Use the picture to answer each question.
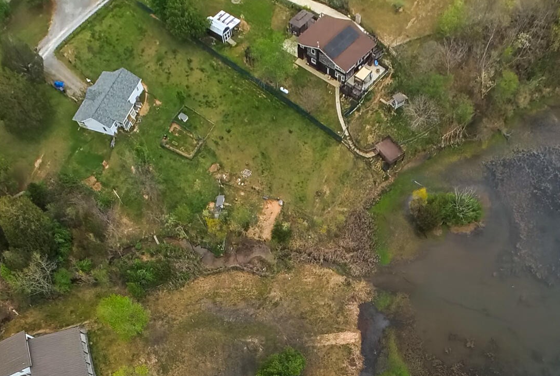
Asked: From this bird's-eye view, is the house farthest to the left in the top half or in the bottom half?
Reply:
bottom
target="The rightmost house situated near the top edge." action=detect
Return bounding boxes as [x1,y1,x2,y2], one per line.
[297,10,369,90]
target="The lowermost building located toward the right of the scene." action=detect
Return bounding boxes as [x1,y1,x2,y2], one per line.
[376,138,403,169]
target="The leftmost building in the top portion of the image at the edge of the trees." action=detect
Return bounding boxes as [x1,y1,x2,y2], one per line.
[72,69,139,143]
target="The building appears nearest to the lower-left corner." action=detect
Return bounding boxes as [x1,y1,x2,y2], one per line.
[0,326,95,376]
